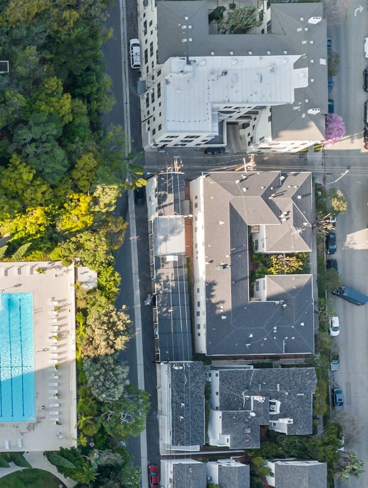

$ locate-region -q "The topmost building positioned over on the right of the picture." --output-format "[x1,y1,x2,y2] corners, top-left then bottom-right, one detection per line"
[136,0,328,155]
